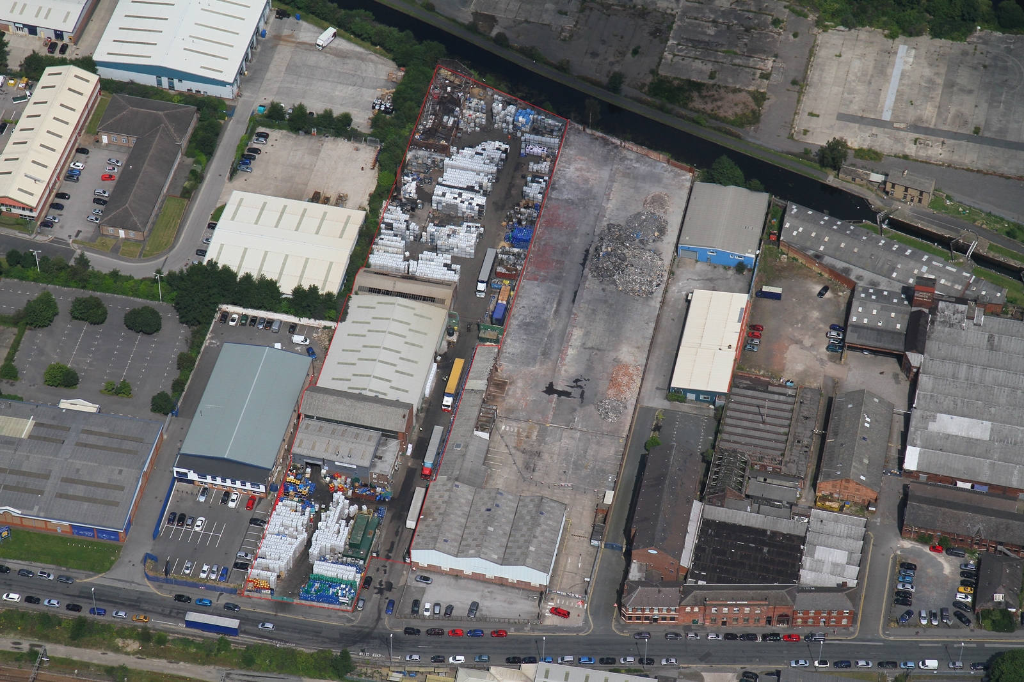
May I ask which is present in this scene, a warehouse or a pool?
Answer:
warehouse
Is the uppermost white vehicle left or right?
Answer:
left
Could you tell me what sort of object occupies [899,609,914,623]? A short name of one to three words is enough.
car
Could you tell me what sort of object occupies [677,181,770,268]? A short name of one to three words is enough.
building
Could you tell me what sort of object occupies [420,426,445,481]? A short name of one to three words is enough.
truck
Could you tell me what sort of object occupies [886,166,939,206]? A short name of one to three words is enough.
house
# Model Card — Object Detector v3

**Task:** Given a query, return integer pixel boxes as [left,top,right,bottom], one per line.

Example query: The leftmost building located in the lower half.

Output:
[0,392,165,542]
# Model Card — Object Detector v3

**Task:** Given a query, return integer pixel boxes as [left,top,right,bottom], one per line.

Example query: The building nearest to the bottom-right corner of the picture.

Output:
[974,543,1024,619]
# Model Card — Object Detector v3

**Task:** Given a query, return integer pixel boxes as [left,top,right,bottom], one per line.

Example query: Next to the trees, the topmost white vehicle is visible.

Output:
[315,27,335,51]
